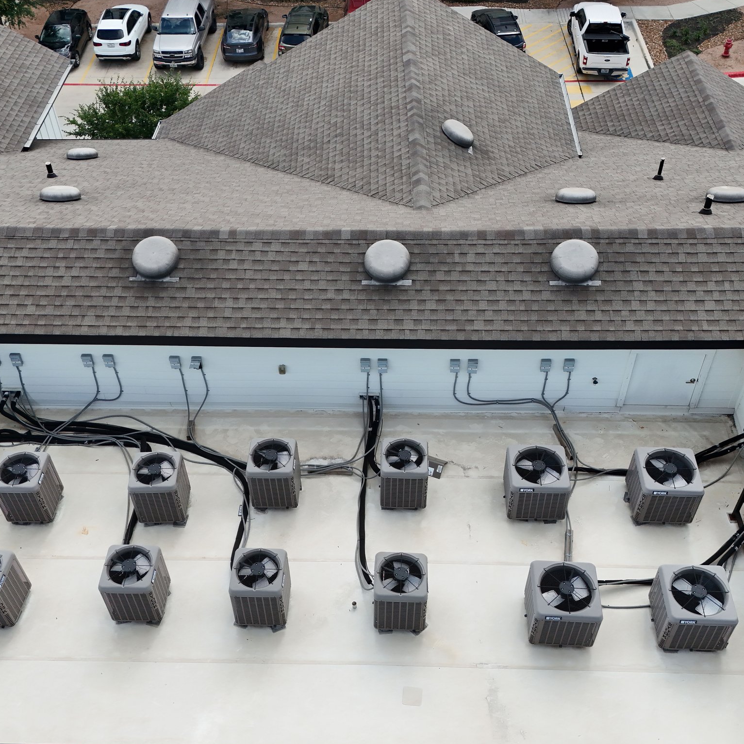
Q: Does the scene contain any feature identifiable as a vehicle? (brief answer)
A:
Yes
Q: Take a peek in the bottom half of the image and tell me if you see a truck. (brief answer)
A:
No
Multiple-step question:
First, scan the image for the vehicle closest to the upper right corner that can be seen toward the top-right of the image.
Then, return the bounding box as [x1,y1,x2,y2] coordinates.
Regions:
[567,0,636,69]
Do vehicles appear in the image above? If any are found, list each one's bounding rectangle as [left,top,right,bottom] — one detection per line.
[147,0,216,70]
[567,0,636,69]
[473,0,528,50]
[282,0,332,50]
[86,5,150,62]
[30,4,92,64]
[214,9,268,60]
